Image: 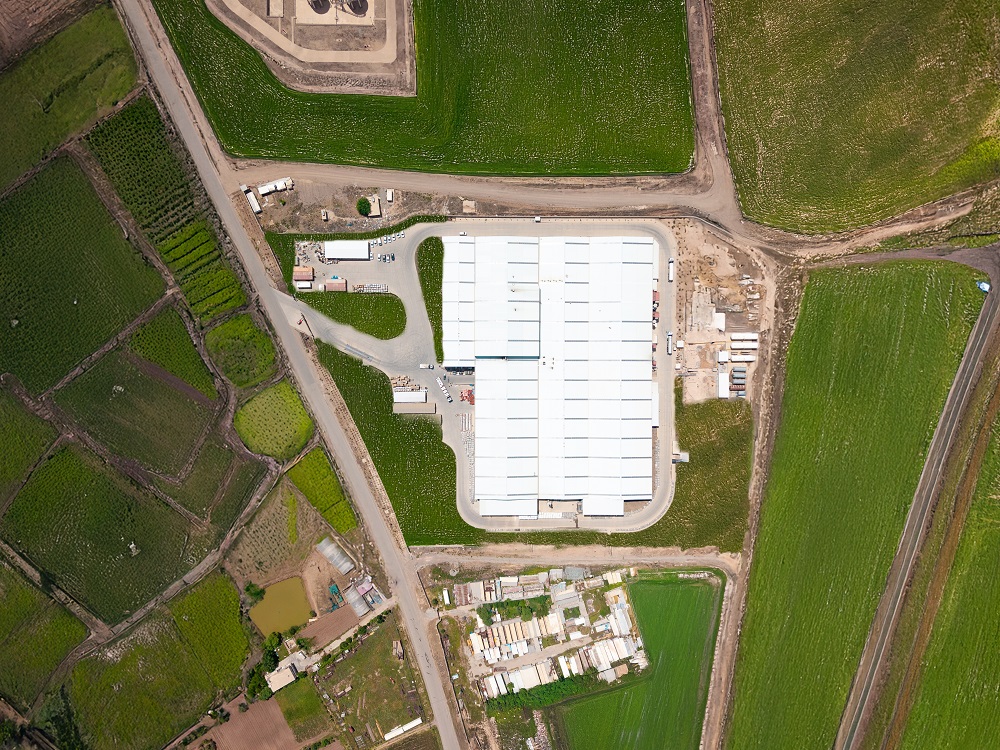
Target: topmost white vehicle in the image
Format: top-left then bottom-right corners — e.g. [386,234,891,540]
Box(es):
[241,185,258,211]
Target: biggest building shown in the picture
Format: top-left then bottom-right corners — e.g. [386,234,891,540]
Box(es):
[442,236,652,499]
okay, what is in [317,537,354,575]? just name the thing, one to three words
greenhouse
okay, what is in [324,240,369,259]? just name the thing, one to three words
building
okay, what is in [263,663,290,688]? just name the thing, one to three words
house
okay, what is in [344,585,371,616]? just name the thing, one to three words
greenhouse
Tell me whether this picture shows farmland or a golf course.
farmland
